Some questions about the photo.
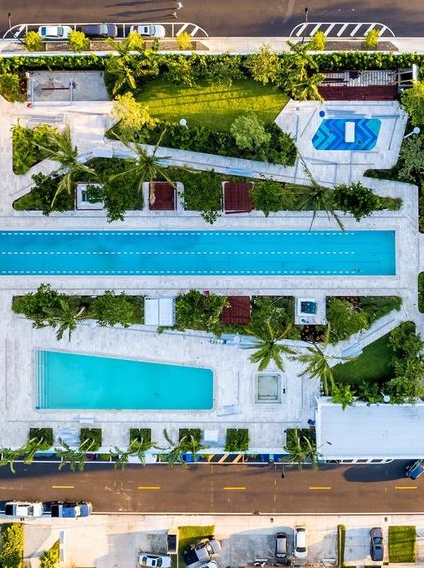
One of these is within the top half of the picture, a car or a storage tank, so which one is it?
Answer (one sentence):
It is a car that can be seen within the top half of the picture.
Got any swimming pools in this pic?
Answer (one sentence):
Yes, the image includes a swimming pool.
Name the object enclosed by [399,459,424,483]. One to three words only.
truck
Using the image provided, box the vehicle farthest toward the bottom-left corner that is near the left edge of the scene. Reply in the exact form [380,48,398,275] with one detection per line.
[4,500,44,518]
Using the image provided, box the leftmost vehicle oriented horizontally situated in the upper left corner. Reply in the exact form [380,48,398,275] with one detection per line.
[38,24,73,40]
